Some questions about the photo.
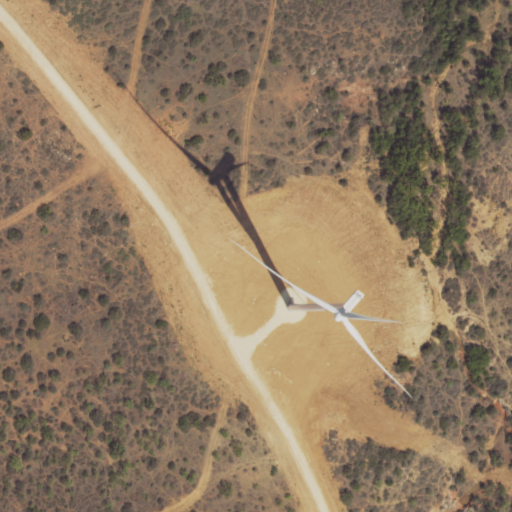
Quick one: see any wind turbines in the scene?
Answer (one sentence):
Yes, looking at the shot, I can spot a wind turbine.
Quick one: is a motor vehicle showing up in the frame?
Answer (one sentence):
No, there isn't any motor vehicle down there.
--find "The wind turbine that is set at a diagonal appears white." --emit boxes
[234,242,410,398]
